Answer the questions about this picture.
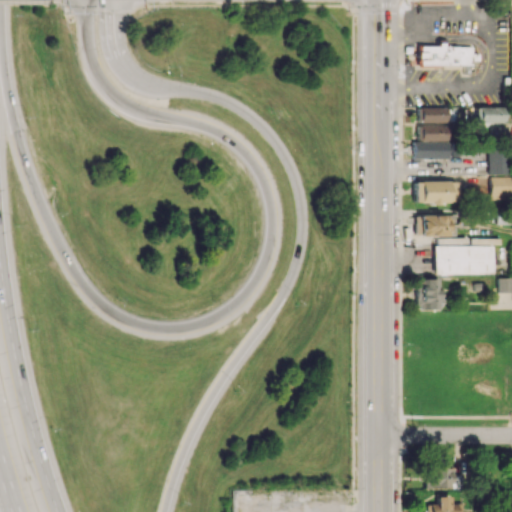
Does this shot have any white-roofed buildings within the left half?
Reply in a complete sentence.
No, there is no white-roofed building within the left half.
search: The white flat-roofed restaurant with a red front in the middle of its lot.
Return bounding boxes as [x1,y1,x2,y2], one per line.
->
[418,40,484,68]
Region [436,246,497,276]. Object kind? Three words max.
building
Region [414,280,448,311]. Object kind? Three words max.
house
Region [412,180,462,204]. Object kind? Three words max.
house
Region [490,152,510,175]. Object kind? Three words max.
building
